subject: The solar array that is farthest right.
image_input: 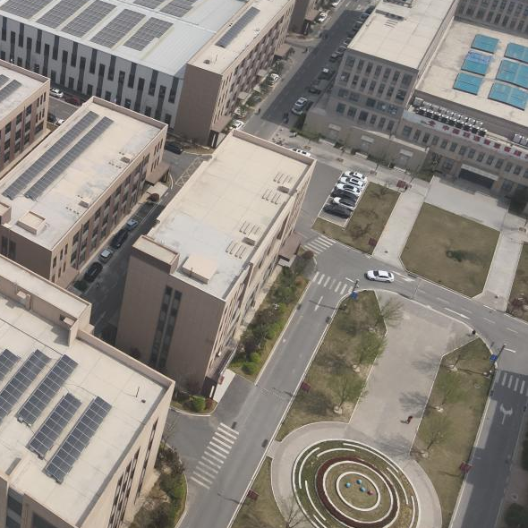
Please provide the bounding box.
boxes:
[212,7,261,50]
